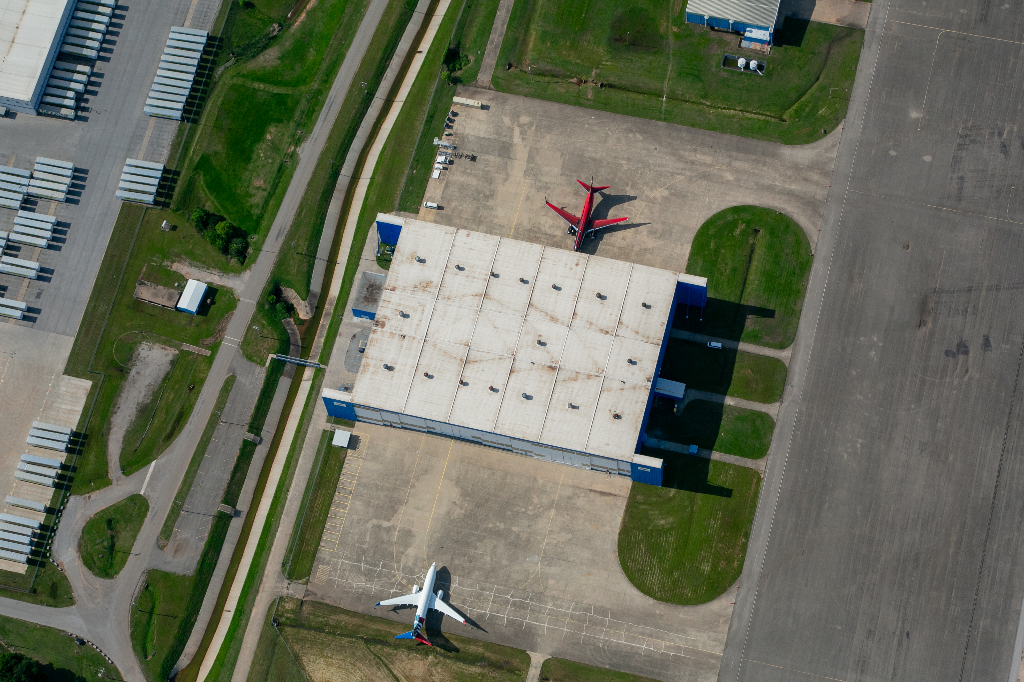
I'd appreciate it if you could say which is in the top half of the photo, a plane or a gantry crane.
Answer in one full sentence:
The feature located in the top half of the photo is a plane.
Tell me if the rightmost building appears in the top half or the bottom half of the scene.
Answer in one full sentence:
The rightmost building sits in the top half of the picture.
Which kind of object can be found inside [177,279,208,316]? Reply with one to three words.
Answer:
shed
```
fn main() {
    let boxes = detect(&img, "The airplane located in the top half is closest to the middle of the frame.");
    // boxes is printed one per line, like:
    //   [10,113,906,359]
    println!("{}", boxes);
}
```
[546,178,630,253]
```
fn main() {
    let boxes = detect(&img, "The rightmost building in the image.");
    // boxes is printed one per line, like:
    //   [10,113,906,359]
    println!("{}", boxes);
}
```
[685,0,781,44]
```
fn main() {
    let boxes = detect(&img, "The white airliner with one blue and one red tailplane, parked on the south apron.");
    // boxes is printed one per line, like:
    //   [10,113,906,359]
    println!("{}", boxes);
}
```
[375,563,466,645]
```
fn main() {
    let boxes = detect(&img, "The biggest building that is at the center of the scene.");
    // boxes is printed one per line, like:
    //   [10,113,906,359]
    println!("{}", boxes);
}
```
[321,213,708,486]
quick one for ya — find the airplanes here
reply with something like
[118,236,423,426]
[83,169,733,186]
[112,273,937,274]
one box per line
[546,178,630,253]
[375,563,466,645]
